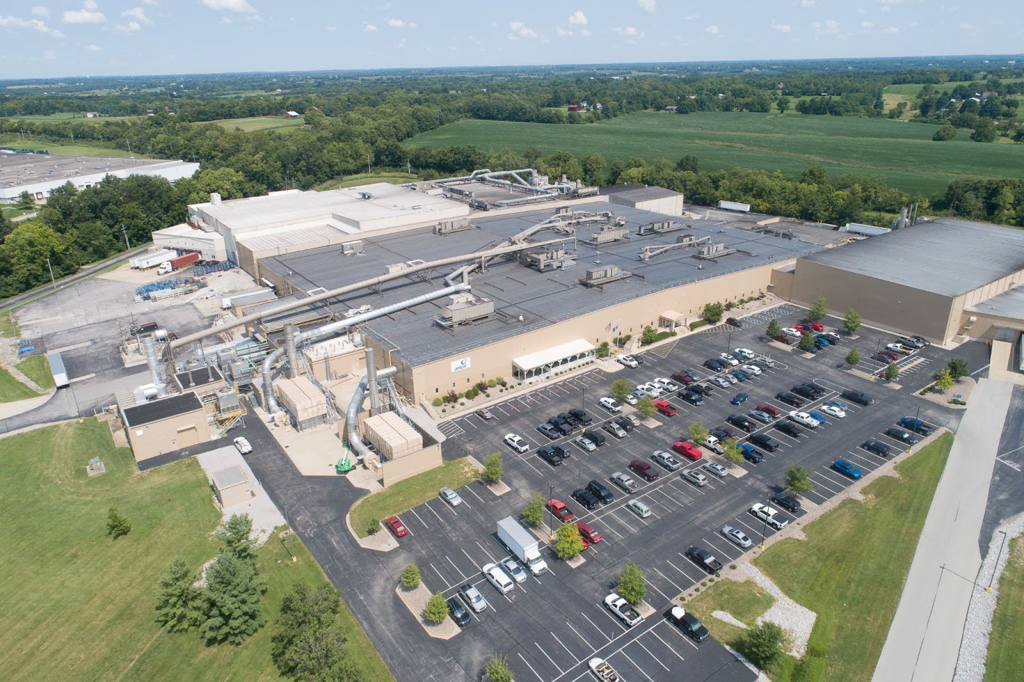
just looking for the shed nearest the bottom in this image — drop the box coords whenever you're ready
[209,463,251,507]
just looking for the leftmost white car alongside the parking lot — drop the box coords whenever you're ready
[232,440,253,454]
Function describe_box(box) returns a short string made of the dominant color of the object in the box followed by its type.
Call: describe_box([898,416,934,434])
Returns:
blue vehicle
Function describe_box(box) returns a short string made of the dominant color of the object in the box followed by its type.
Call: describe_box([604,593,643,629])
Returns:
white truck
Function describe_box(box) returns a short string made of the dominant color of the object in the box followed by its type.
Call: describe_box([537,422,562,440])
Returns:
gray vehicle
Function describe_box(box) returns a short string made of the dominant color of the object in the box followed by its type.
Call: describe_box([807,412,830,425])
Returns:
blue vehicle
